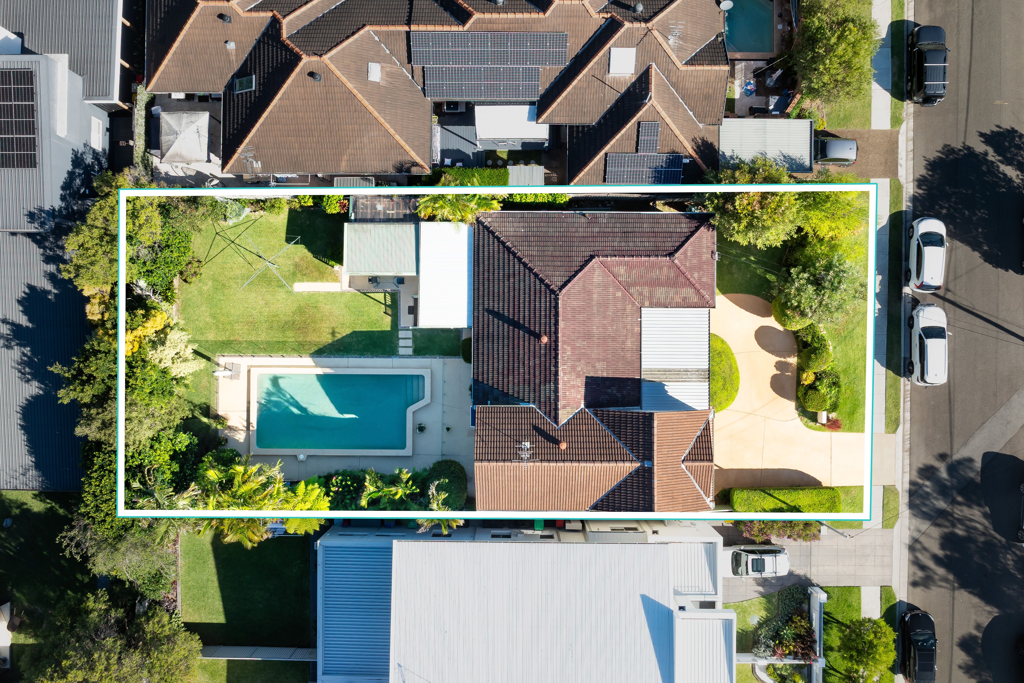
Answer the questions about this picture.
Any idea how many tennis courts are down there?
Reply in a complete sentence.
The photo contains no tennis courts.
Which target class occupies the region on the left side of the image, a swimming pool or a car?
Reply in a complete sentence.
The one visible on the left side of the image is a swimming pool.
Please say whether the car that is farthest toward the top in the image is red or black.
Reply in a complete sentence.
The color of the car that is farthest toward the top is black.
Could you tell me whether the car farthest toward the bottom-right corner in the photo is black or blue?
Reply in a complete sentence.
The car farthest toward the bottom-right corner is black.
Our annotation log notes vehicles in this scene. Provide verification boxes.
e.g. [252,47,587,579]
[905,217,949,292]
[906,302,950,385]
[724,538,792,577]
[813,132,866,170]
[906,22,953,106]
[898,606,942,683]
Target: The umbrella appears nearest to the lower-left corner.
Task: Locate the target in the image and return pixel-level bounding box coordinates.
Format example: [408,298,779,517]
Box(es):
[212,363,237,379]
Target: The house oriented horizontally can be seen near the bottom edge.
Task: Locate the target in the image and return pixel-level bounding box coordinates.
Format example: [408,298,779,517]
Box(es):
[316,513,737,683]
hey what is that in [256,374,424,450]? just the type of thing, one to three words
swimming pool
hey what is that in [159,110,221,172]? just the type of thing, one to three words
gazebo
